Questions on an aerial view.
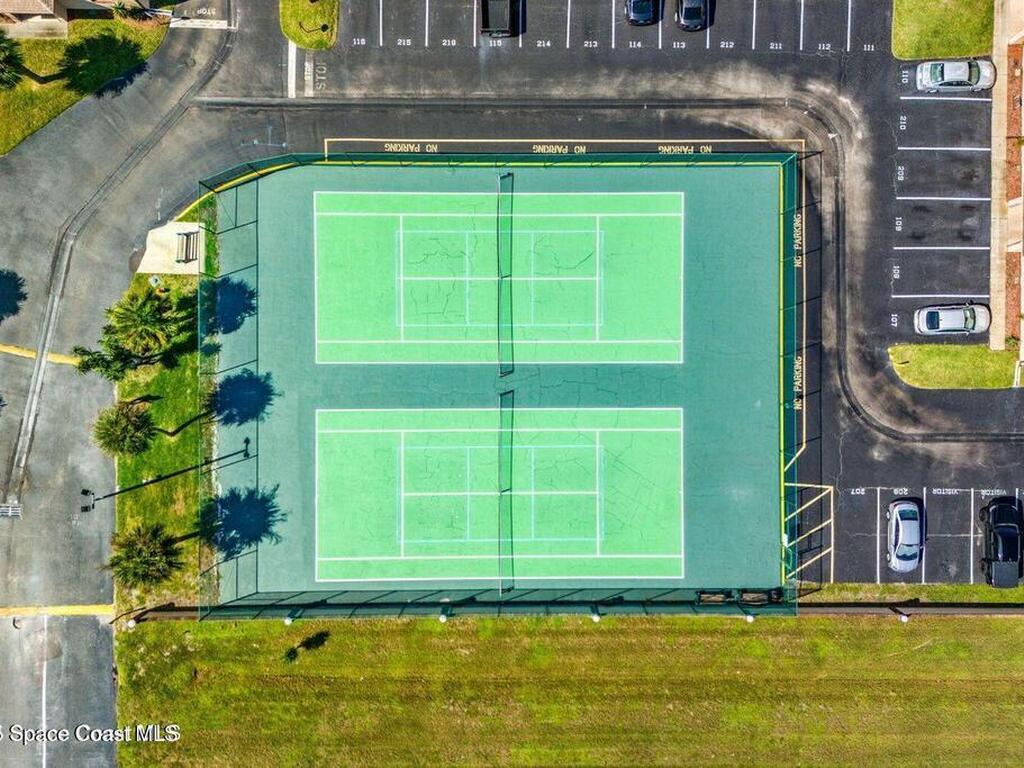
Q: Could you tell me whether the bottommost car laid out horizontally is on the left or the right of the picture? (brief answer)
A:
right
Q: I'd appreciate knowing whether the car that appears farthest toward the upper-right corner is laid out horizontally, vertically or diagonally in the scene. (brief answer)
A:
horizontally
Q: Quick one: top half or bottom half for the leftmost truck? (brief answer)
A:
top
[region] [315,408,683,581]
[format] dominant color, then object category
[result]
green tennis court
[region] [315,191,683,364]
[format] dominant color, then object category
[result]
green tennis court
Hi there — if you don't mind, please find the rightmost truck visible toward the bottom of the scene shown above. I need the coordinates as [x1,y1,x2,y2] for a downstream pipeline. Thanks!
[977,499,1024,590]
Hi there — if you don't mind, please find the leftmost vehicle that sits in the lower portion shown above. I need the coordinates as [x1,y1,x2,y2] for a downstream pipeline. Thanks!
[885,500,925,571]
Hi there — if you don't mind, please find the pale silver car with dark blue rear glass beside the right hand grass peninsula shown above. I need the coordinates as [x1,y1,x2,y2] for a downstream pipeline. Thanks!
[913,301,989,337]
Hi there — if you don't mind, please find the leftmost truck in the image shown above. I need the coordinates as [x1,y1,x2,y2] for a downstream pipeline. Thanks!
[479,0,513,39]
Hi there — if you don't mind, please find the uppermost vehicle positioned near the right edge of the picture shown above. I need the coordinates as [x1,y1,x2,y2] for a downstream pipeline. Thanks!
[916,55,993,94]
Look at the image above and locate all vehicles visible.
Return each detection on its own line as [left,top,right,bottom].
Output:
[913,301,989,337]
[977,499,1024,590]
[676,0,706,33]
[885,500,925,571]
[916,55,993,94]
[479,0,513,39]
[624,0,655,27]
